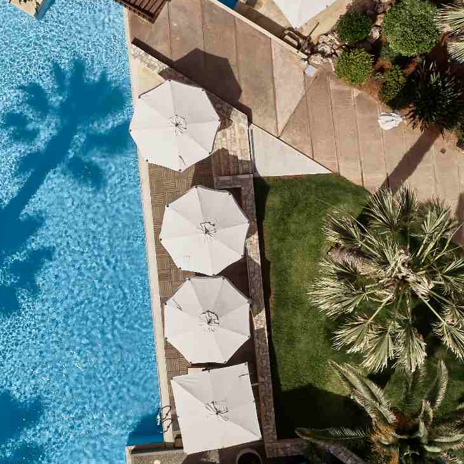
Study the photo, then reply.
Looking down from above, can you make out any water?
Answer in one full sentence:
Yes, water shows up in the scene.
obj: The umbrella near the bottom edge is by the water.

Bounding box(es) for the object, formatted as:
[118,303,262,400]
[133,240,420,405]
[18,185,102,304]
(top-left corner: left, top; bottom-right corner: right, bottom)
[170,362,264,456]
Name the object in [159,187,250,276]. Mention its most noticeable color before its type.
white umbrella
